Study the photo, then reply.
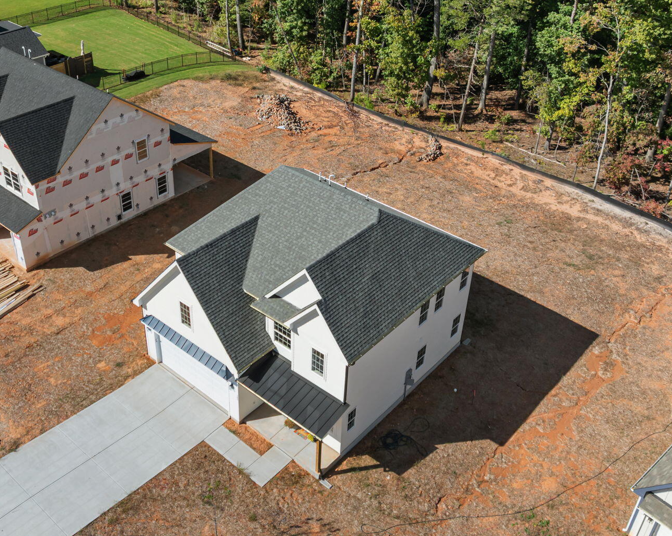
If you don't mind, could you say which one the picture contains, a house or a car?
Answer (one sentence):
Visible in the photo is a house.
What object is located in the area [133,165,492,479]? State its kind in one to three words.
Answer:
house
